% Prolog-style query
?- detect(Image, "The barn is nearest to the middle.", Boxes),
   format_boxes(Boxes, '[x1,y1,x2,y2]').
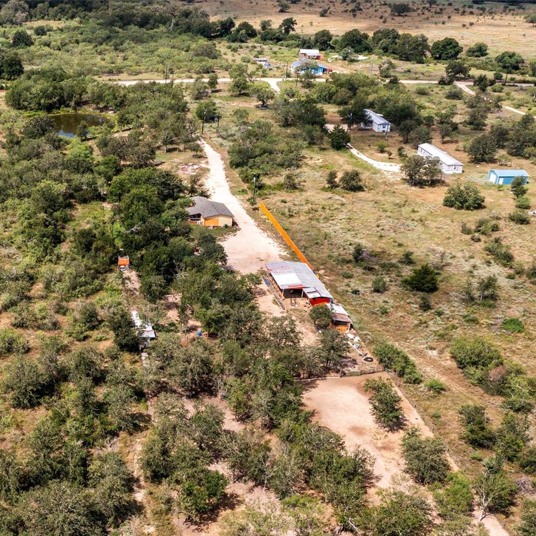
[265,261,332,307]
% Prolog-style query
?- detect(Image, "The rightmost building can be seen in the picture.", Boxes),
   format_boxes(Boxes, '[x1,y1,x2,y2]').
[488,170,531,184]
